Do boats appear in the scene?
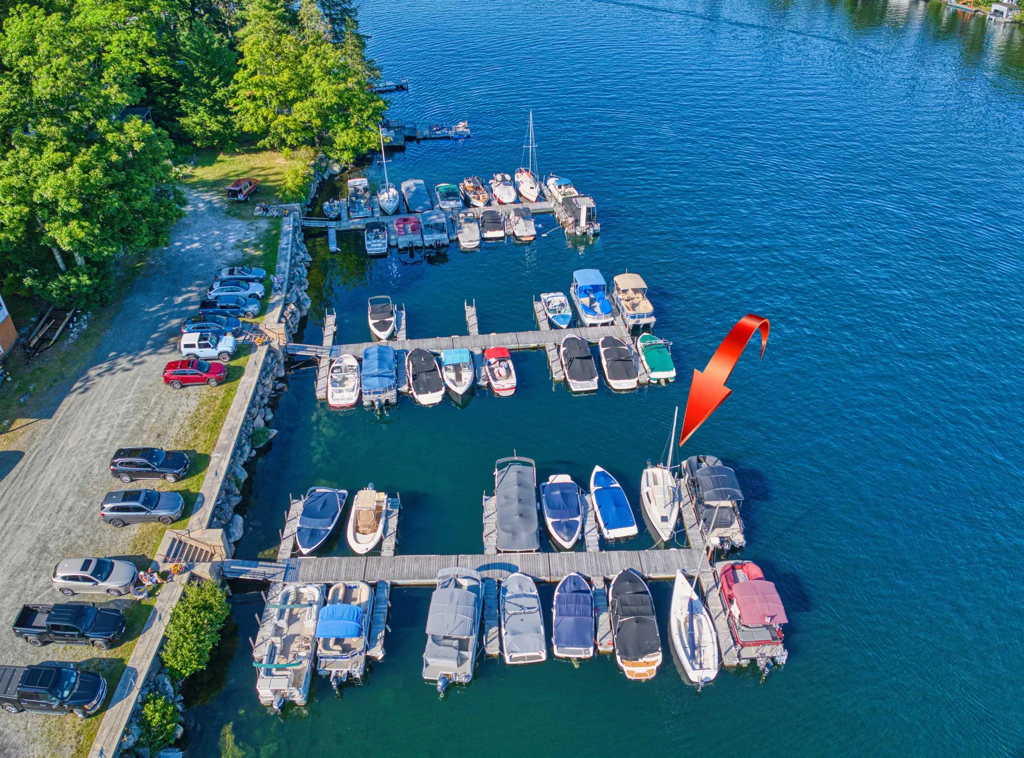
Yes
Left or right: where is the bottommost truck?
left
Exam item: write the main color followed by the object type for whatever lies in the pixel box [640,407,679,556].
white boat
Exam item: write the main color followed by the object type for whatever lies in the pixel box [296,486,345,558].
blue boat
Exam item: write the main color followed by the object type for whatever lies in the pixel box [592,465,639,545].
blue boat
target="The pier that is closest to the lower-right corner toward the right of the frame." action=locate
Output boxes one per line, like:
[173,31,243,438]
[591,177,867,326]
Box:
[699,576,746,669]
